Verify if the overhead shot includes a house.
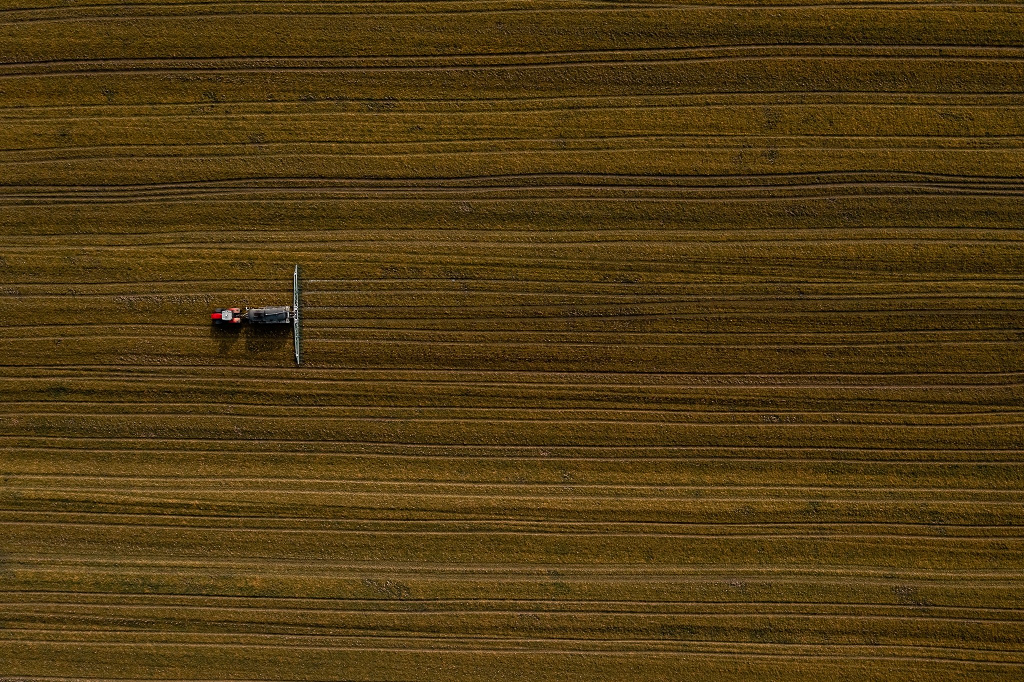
No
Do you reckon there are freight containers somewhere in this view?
No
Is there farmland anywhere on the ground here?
Yes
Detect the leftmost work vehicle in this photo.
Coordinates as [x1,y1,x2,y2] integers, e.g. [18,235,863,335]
[211,308,247,324]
